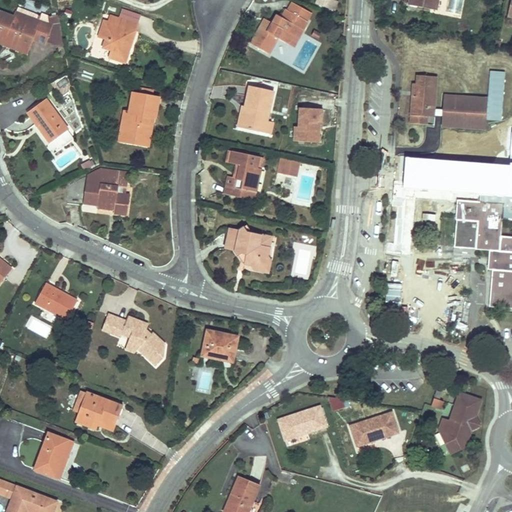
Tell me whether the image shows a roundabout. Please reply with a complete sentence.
Yes, a roundabout can be made out from above.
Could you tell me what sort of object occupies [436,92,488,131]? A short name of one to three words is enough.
building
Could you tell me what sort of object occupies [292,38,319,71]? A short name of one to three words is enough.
swimming pool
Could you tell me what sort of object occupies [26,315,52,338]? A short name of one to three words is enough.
shed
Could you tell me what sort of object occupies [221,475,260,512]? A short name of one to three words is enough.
house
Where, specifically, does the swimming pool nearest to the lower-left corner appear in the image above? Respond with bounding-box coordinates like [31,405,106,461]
[196,370,212,392]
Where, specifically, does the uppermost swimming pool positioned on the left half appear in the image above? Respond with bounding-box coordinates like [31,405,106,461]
[75,24,93,50]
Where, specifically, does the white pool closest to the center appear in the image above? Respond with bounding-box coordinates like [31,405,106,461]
[292,244,316,276]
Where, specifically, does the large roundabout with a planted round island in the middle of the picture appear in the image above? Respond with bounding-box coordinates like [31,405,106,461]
[276,282,366,387]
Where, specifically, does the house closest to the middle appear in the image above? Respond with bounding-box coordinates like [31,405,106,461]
[224,227,278,274]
